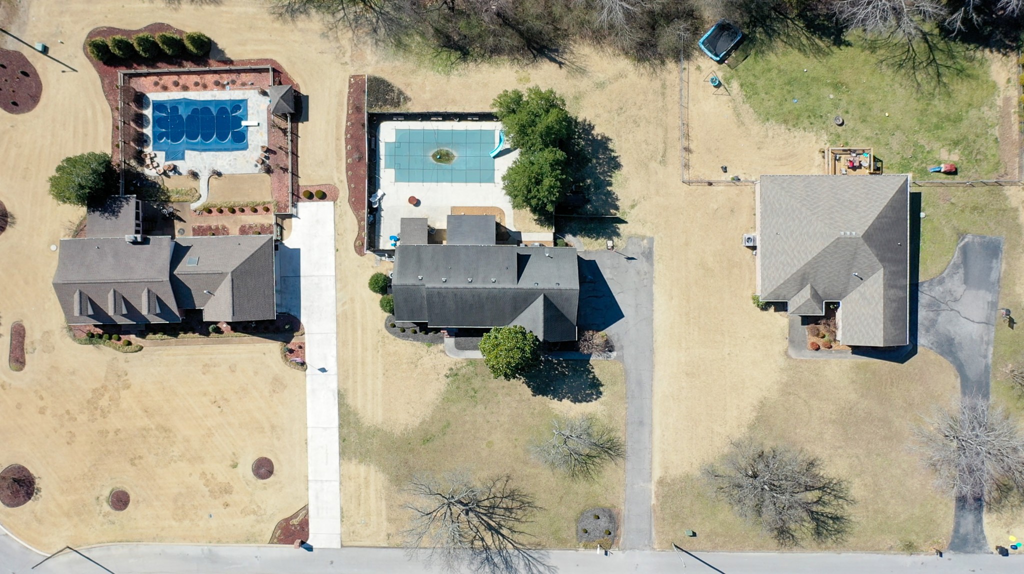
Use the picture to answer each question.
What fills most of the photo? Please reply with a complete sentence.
The bulk of the photo consists of grass.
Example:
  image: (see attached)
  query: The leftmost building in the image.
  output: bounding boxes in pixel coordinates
[52,195,280,326]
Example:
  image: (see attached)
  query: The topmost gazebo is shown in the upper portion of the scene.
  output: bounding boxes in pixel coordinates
[269,85,300,116]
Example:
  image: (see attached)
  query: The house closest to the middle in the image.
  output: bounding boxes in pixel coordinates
[392,215,579,342]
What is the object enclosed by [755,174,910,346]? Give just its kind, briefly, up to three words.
house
